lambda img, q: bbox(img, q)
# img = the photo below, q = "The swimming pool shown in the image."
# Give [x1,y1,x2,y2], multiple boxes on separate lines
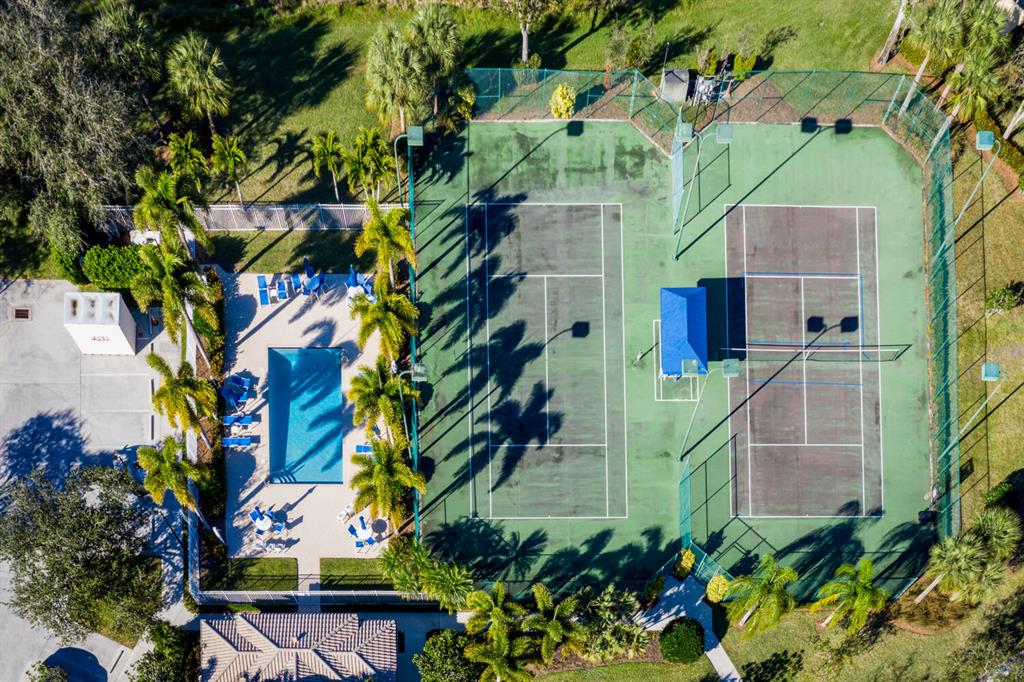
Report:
[261,341,353,487]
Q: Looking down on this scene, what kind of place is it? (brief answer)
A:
sports ground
